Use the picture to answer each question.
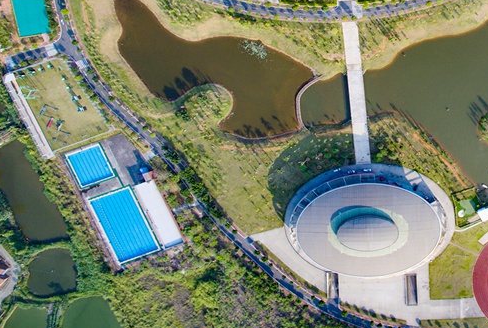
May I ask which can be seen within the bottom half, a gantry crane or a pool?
pool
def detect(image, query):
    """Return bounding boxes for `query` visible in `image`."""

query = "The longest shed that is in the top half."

[4,76,57,159]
